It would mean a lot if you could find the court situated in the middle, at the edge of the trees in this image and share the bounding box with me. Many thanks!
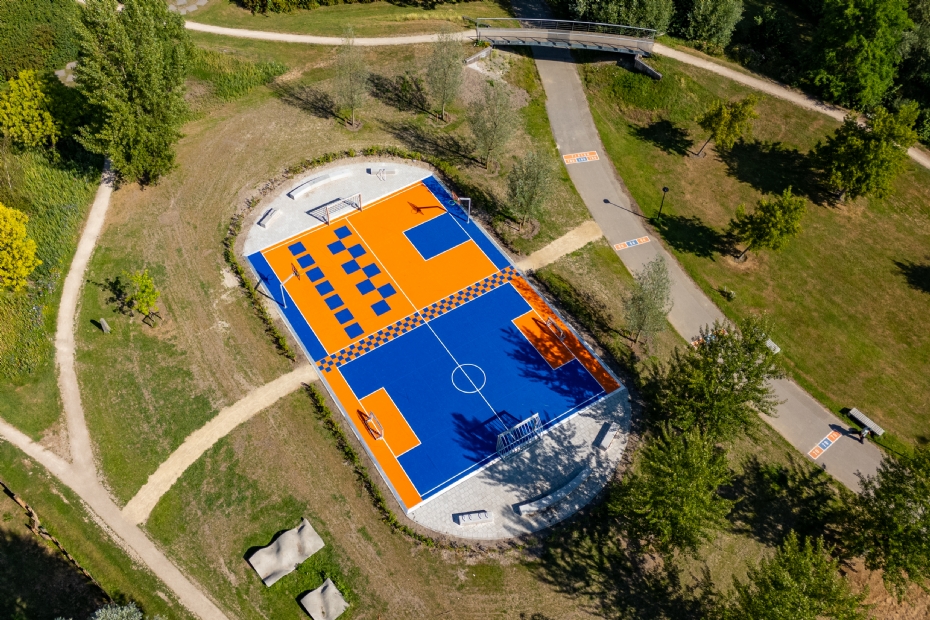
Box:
[242,162,630,536]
